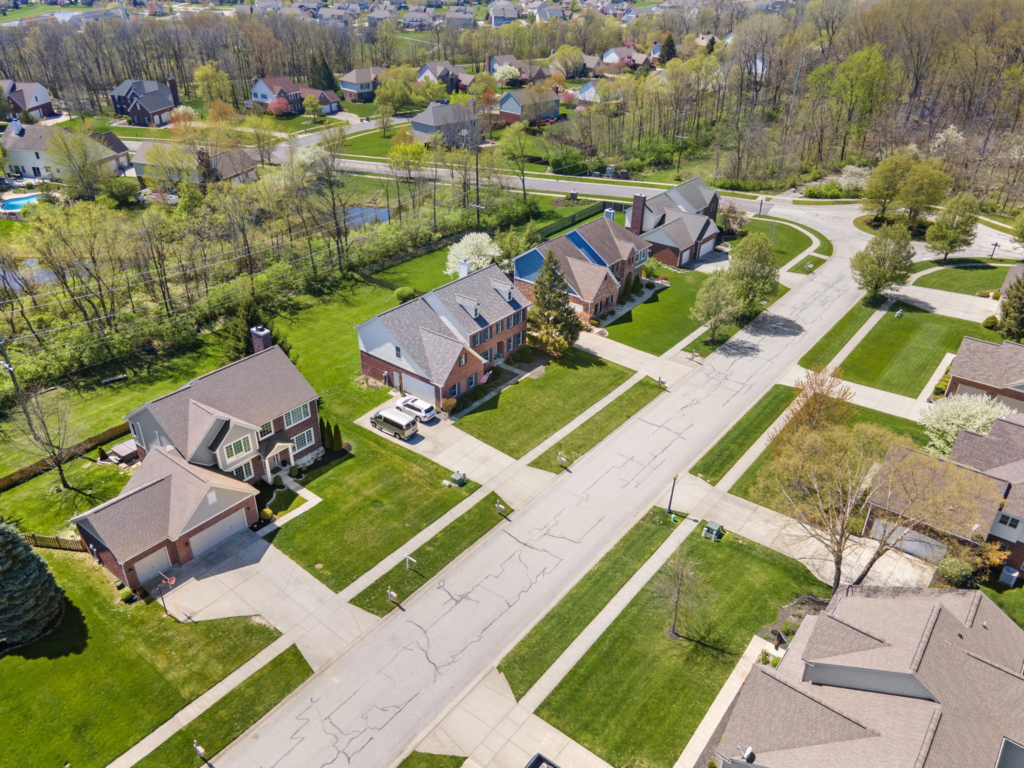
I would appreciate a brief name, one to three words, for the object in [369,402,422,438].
van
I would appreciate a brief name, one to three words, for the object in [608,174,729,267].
house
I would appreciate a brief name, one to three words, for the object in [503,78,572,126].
house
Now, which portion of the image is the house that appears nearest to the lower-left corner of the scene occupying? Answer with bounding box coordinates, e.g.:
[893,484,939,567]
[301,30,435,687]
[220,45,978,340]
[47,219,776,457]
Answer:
[75,329,325,591]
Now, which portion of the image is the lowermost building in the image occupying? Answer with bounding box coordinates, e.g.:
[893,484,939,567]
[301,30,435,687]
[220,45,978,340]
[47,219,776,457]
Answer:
[709,577,1024,768]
